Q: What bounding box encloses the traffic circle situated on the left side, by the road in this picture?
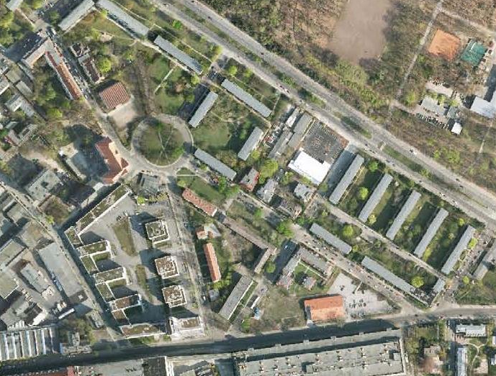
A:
[126,105,196,176]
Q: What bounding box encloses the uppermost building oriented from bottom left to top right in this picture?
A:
[60,0,96,32]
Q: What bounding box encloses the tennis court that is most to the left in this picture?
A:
[431,29,461,60]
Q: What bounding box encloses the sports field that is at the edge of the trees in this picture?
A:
[332,0,390,61]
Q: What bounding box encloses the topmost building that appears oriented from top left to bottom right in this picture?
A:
[98,0,151,37]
